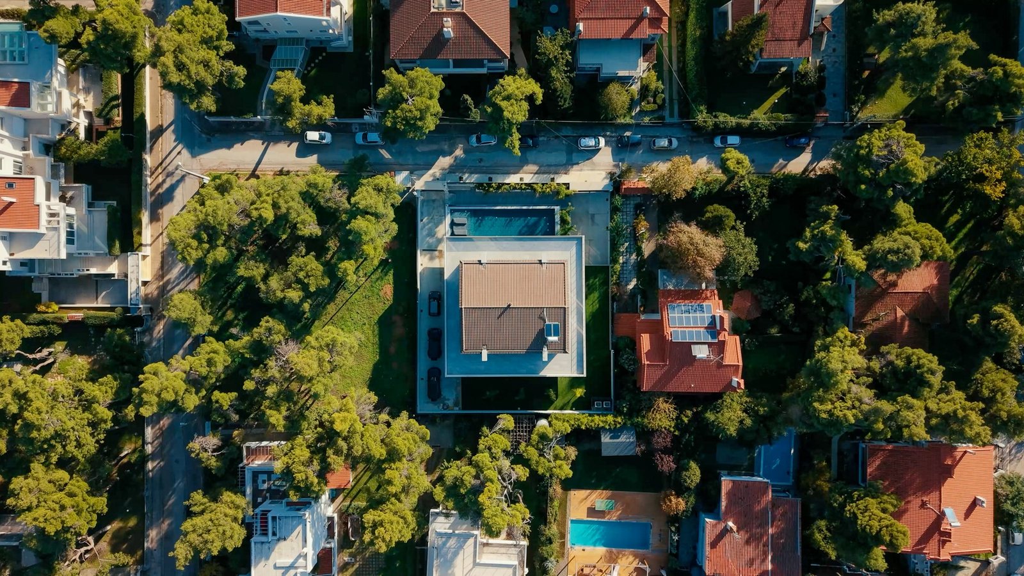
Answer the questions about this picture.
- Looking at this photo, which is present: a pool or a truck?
pool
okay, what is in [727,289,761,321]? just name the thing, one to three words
gazebo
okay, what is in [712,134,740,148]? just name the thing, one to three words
car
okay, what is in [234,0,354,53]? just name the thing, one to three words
house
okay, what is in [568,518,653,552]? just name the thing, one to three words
swimming pool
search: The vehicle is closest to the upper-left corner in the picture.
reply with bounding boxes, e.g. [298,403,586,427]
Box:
[305,130,332,145]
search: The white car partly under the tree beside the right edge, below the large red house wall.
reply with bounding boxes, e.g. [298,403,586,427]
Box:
[1006,520,1023,548]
